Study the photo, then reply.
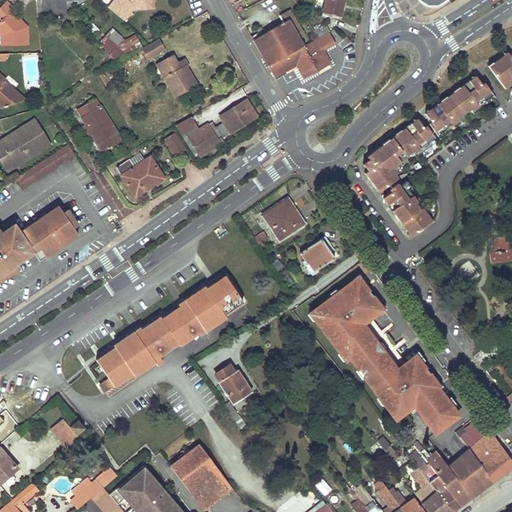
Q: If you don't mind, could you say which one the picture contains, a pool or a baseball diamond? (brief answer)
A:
pool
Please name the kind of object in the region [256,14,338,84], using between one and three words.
building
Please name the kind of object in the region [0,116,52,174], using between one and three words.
building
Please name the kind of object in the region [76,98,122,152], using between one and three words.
house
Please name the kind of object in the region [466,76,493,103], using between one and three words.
house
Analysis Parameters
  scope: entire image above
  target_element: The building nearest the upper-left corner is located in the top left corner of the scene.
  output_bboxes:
[0,1,30,46]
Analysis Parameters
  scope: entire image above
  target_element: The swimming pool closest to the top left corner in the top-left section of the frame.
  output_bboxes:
[22,52,40,90]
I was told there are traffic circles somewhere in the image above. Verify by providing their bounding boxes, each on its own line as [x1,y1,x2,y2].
[263,12,452,180]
